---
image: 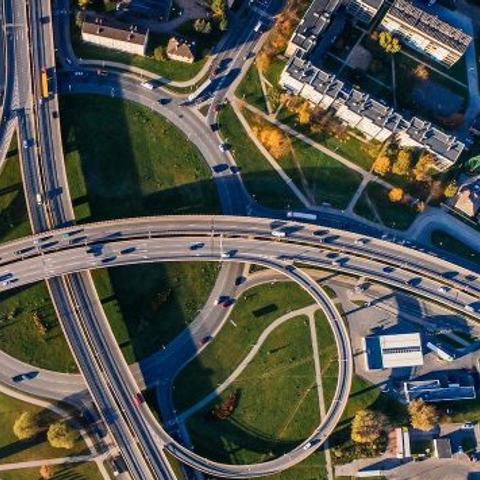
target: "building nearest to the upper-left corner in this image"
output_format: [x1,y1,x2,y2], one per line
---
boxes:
[82,11,151,50]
